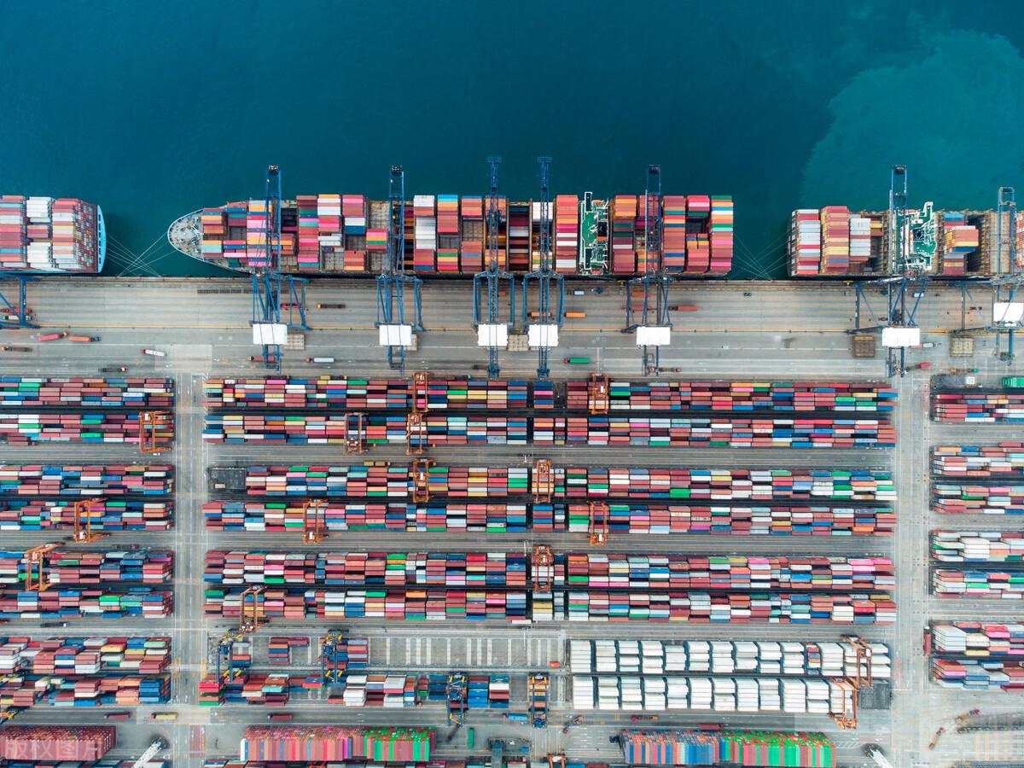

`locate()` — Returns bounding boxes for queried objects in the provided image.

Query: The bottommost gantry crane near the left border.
[0,666,35,724]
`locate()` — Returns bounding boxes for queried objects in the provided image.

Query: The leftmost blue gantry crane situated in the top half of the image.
[0,277,40,327]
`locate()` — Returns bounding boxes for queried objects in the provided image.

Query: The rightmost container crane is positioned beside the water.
[956,182,1024,370]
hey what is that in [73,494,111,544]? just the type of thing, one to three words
container crane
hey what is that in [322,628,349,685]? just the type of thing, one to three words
container crane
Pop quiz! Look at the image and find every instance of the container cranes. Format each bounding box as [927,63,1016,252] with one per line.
[585,370,608,416]
[302,493,330,544]
[406,408,429,456]
[532,539,552,592]
[523,155,562,377]
[956,182,1024,370]
[0,666,35,724]
[412,453,435,503]
[345,408,371,456]
[624,169,673,374]
[322,628,349,685]
[839,631,873,688]
[376,167,425,372]
[240,582,270,633]
[216,630,248,687]
[475,154,515,377]
[531,454,552,503]
[826,671,859,730]
[848,170,925,375]
[251,166,312,371]
[137,407,173,454]
[25,537,65,590]
[73,494,111,544]
[0,277,40,327]
[585,495,607,546]
[411,369,434,415]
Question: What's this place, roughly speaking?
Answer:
port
